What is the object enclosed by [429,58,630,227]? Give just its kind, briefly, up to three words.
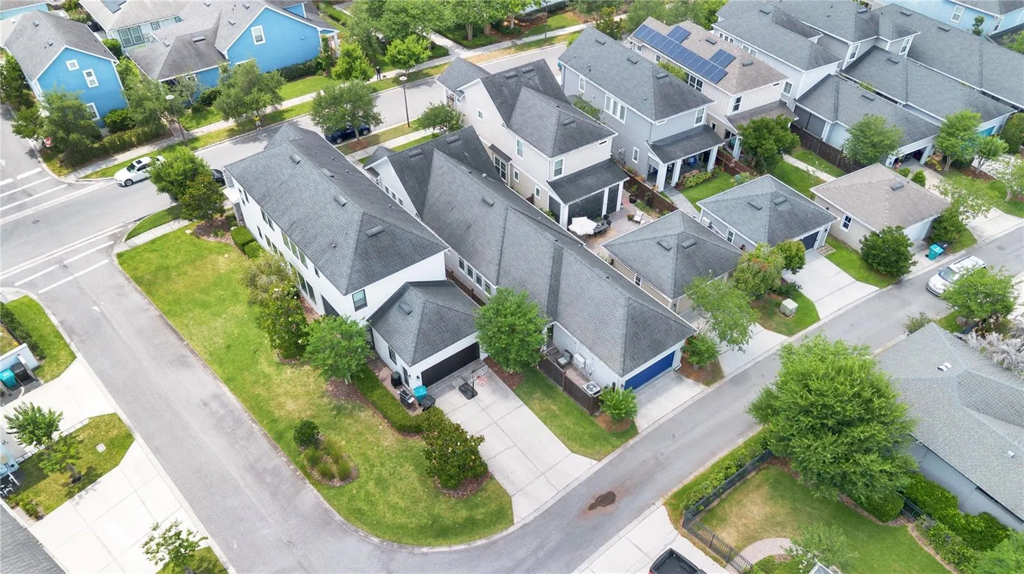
house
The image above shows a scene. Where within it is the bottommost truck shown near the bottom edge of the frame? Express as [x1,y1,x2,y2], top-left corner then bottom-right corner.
[640,547,691,574]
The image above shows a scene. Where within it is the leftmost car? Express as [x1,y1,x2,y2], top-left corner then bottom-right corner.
[112,158,161,185]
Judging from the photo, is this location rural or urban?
urban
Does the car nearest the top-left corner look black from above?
No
